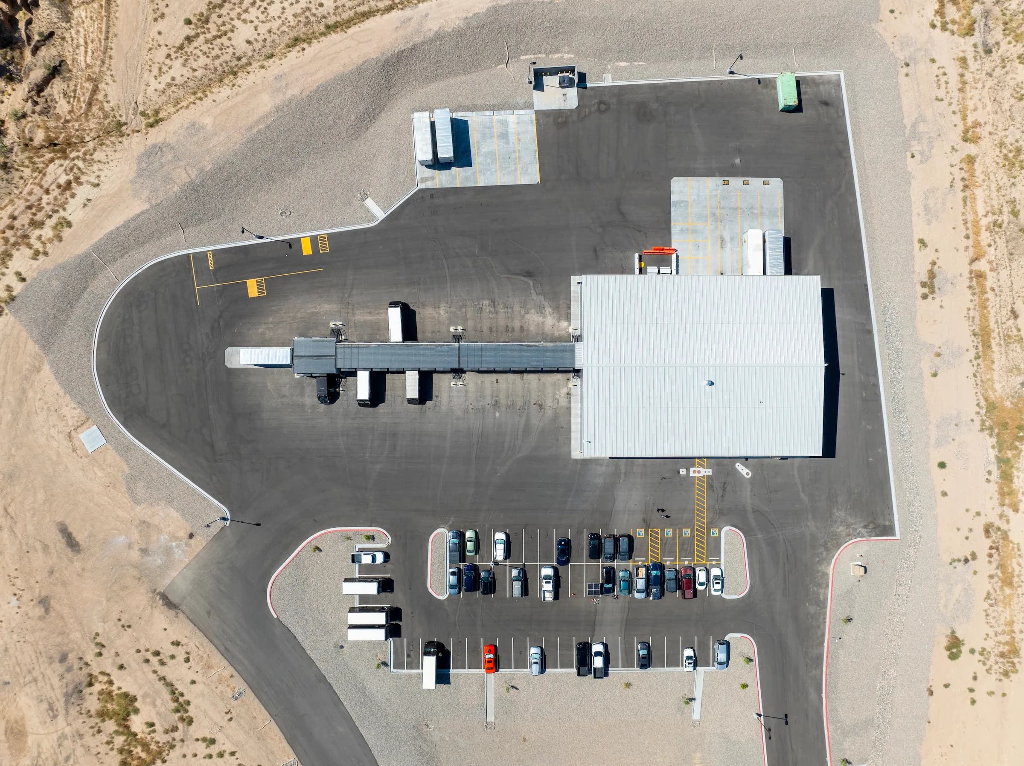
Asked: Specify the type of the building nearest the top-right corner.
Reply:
warehouse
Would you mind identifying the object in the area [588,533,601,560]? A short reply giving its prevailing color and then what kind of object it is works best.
black vehicle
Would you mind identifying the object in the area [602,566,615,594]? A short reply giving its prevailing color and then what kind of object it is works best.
black vehicle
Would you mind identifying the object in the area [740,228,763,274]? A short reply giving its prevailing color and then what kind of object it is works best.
white trailer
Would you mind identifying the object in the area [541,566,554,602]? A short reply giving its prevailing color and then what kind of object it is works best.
white vehicle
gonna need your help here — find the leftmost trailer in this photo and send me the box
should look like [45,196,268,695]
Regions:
[241,349,292,364]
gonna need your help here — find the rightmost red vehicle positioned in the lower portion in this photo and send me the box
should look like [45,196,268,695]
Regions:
[680,566,694,600]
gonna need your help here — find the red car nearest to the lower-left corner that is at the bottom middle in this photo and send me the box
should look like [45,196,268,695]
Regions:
[483,644,496,673]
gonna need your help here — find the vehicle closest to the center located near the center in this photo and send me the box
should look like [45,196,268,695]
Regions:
[405,372,422,406]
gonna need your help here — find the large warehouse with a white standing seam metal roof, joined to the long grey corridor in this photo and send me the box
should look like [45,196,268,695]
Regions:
[577,274,832,457]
